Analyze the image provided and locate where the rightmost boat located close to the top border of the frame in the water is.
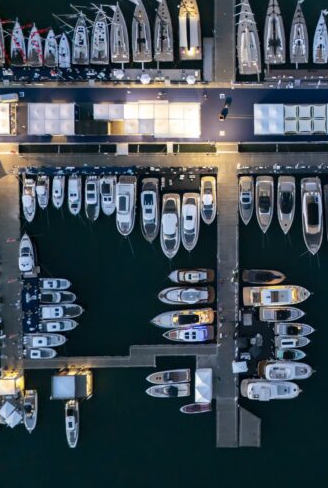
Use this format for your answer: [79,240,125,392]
[312,9,328,64]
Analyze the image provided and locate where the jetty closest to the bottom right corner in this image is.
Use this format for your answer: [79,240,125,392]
[239,404,261,447]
